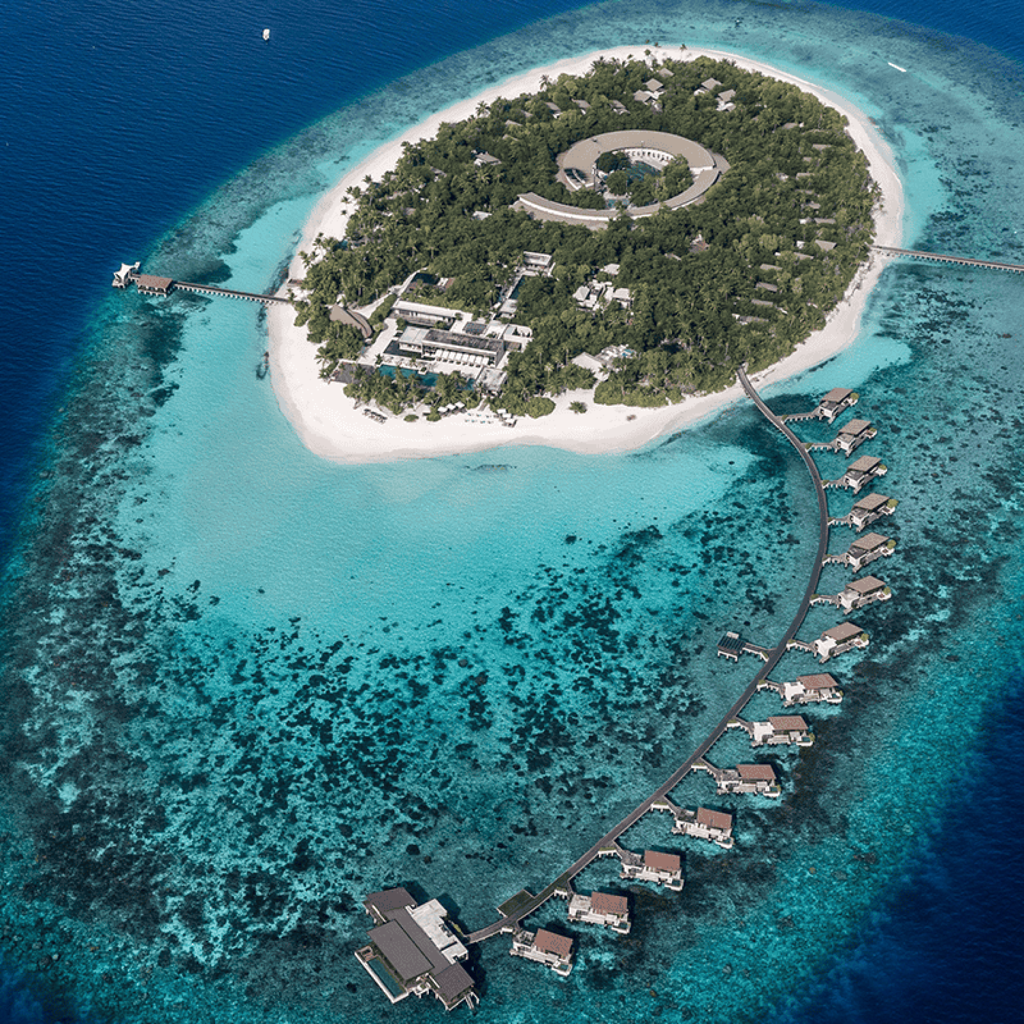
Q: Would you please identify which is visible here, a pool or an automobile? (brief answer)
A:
pool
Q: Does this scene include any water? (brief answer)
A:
Yes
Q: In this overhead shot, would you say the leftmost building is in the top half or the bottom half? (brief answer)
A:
top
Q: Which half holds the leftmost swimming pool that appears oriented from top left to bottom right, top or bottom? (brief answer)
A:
bottom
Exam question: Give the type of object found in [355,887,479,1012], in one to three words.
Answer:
building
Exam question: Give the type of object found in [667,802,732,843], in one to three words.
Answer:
house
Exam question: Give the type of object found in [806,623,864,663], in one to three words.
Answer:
house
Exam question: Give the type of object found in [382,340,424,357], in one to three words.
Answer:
swimming pool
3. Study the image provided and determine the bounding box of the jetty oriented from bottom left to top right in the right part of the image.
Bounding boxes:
[464,365,830,946]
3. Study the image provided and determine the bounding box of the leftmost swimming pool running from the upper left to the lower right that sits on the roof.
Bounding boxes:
[367,958,406,998]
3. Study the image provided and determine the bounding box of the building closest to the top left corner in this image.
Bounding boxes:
[137,275,174,299]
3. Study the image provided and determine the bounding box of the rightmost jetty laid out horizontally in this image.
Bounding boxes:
[870,244,1024,276]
